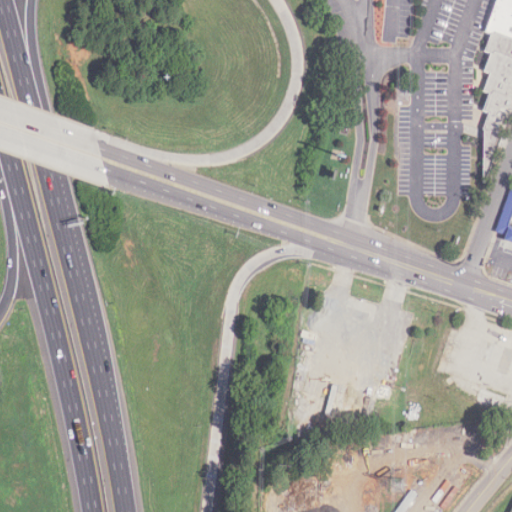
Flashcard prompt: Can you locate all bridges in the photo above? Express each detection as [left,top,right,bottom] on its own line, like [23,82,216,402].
[0,94,109,190]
